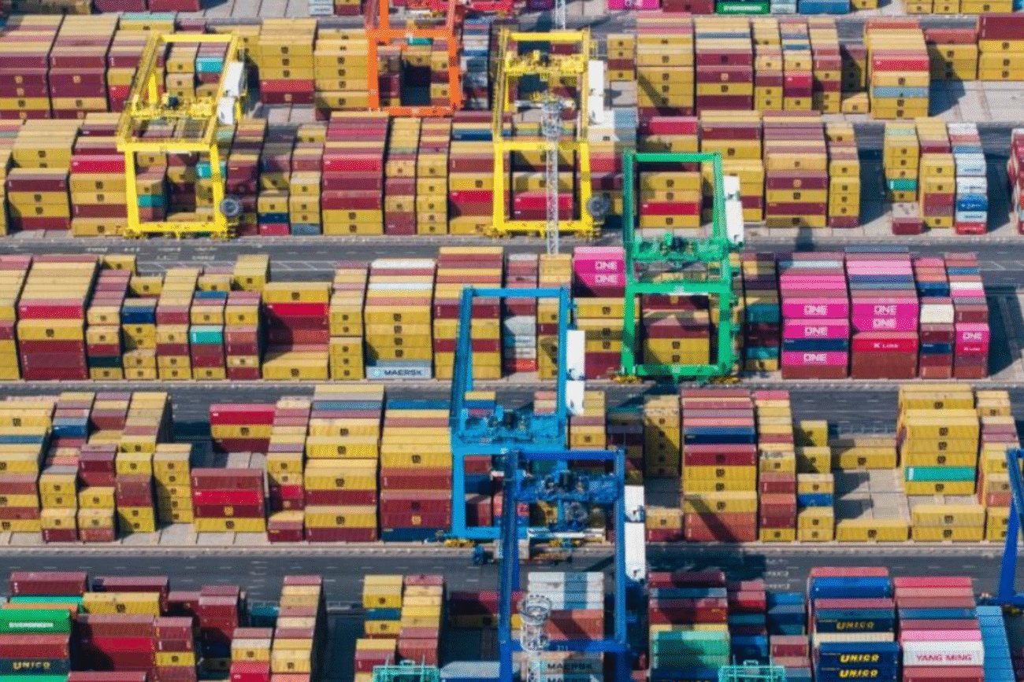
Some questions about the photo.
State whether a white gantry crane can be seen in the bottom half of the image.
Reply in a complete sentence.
No, no white gantry crane appears in the bottom half of the image.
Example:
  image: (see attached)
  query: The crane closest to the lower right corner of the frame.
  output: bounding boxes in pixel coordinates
[987,443,1024,605]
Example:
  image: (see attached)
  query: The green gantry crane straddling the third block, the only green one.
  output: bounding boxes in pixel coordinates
[615,150,749,385]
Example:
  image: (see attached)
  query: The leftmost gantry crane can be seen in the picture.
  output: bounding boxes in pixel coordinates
[112,27,251,239]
